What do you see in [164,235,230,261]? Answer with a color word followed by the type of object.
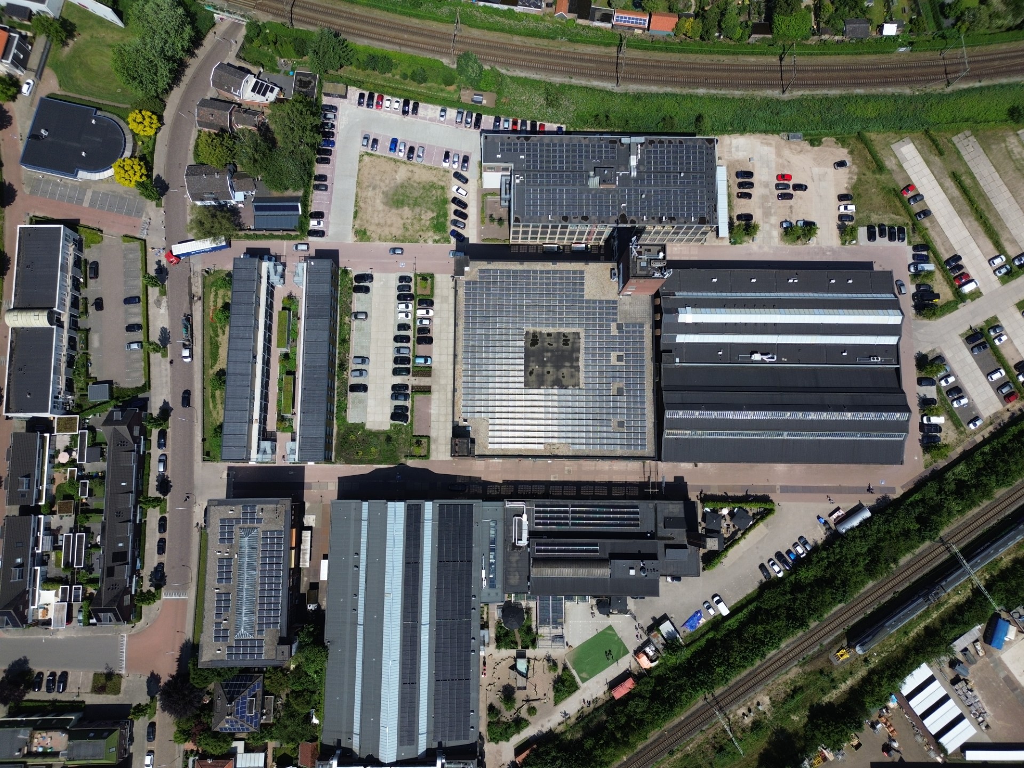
white truck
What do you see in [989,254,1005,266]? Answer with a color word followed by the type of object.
white vehicle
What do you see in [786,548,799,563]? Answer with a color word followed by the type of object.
blue vehicle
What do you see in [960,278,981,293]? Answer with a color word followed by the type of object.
white vehicle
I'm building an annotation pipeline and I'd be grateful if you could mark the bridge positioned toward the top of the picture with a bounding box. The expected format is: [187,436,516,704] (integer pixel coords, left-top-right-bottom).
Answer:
[204,0,270,27]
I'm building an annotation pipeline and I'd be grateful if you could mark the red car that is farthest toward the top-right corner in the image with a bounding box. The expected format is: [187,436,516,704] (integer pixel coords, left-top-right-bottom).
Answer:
[900,182,919,194]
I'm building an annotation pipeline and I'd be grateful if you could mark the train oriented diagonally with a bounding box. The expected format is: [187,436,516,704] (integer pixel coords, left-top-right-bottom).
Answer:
[854,517,1024,649]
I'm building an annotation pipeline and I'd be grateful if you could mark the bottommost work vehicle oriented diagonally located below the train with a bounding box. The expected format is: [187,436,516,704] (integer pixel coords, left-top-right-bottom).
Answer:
[876,737,894,757]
